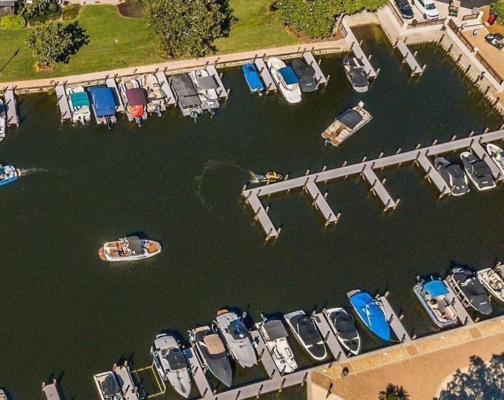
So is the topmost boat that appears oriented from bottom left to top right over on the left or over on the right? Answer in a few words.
right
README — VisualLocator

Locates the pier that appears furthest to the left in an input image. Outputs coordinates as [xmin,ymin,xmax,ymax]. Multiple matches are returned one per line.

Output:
[3,87,20,129]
